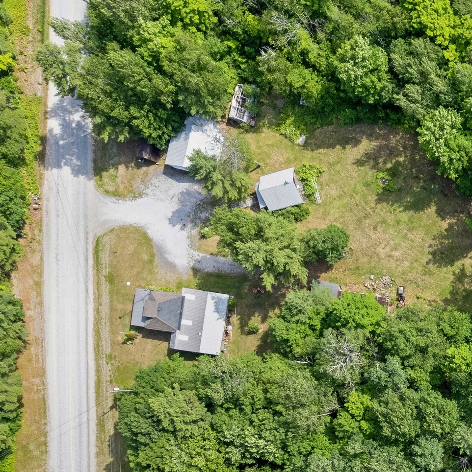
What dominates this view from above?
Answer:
trees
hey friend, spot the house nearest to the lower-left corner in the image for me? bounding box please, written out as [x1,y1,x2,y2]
[131,288,234,356]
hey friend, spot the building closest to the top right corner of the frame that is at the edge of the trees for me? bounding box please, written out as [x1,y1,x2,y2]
[255,168,305,210]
